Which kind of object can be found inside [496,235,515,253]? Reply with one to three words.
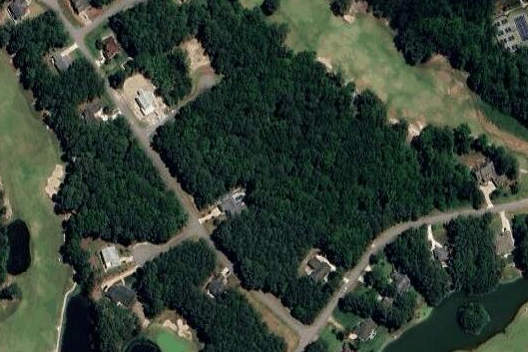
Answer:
house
